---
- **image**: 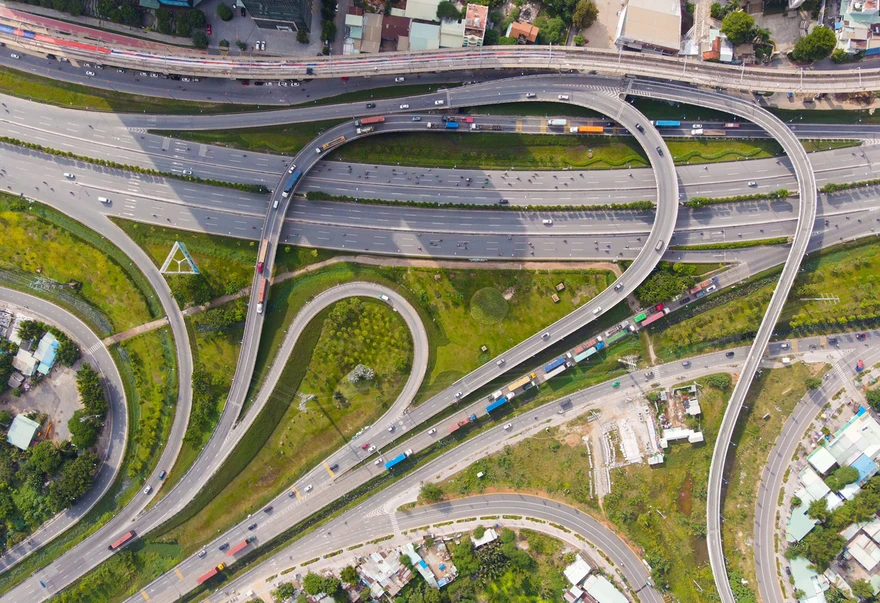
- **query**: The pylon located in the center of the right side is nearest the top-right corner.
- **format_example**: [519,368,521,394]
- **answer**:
[817,290,846,308]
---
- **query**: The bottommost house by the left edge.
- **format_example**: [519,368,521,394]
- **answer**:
[7,412,46,449]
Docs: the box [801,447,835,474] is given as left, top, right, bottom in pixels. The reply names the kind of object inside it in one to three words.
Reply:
house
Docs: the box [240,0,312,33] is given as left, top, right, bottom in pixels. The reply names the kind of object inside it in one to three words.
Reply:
building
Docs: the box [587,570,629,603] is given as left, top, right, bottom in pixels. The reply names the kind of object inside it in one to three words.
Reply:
house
